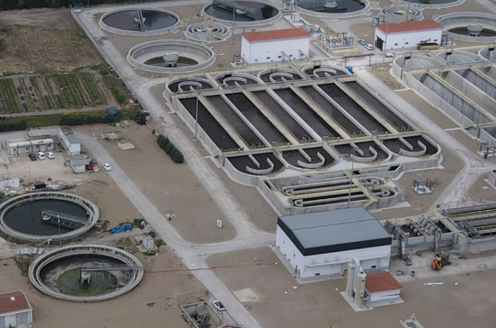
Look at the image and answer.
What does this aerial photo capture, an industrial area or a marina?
industrial area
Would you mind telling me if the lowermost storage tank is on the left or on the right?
left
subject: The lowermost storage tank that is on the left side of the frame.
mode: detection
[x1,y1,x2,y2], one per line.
[22,245,150,309]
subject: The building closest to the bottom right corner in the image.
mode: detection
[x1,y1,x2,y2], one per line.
[367,273,407,306]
